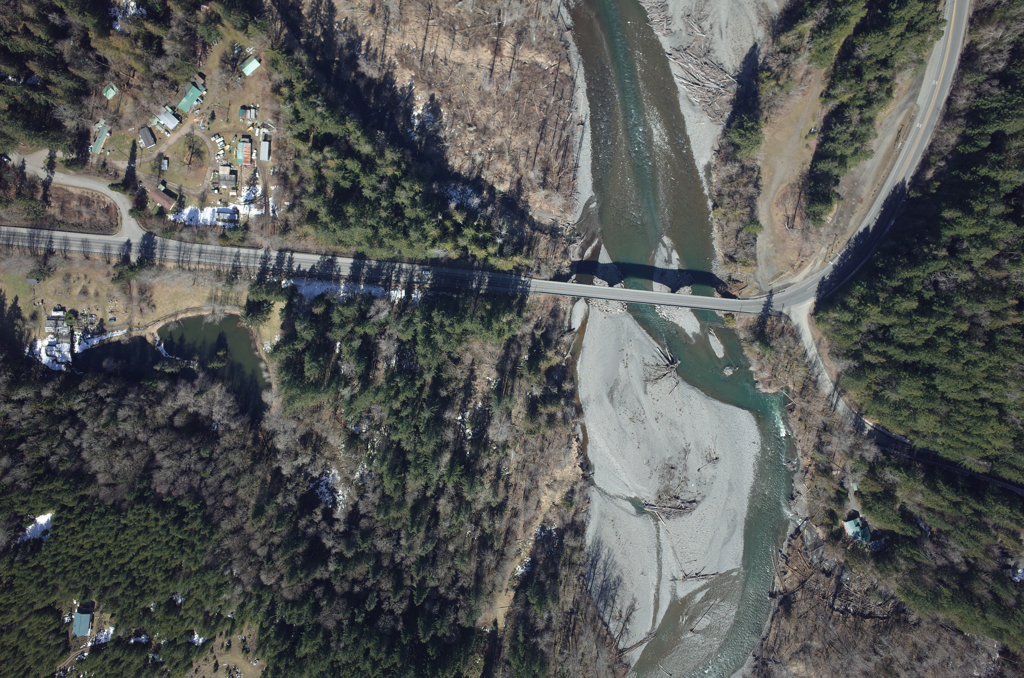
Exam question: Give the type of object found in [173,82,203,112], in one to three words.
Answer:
house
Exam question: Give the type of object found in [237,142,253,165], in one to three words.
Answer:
house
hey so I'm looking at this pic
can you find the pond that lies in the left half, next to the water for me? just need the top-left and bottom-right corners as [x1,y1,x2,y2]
[77,314,269,427]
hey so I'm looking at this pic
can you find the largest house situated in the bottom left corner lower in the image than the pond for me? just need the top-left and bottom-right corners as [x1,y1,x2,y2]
[73,612,93,635]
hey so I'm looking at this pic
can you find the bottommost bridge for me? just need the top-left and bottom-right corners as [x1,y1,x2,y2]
[552,282,738,311]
